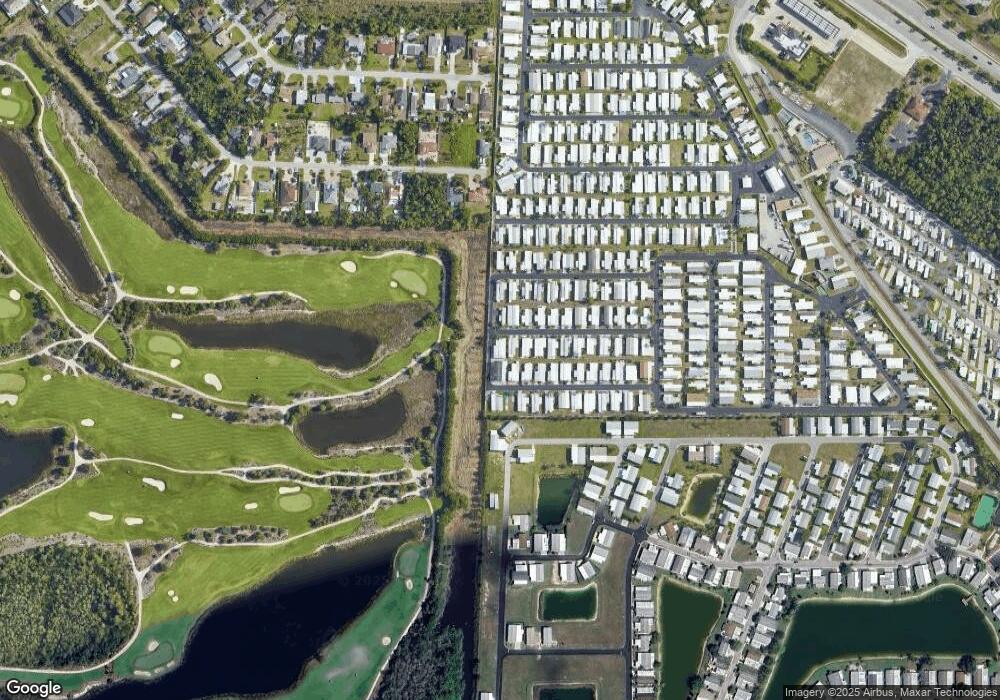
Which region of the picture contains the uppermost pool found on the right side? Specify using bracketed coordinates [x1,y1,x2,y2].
[788,117,834,152]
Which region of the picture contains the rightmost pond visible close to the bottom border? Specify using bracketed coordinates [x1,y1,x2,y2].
[658,579,723,700]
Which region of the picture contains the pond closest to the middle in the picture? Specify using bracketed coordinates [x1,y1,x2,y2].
[537,476,577,525]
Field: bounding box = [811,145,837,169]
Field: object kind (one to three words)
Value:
building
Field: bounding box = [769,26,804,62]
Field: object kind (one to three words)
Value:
house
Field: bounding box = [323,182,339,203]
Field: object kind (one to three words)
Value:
house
